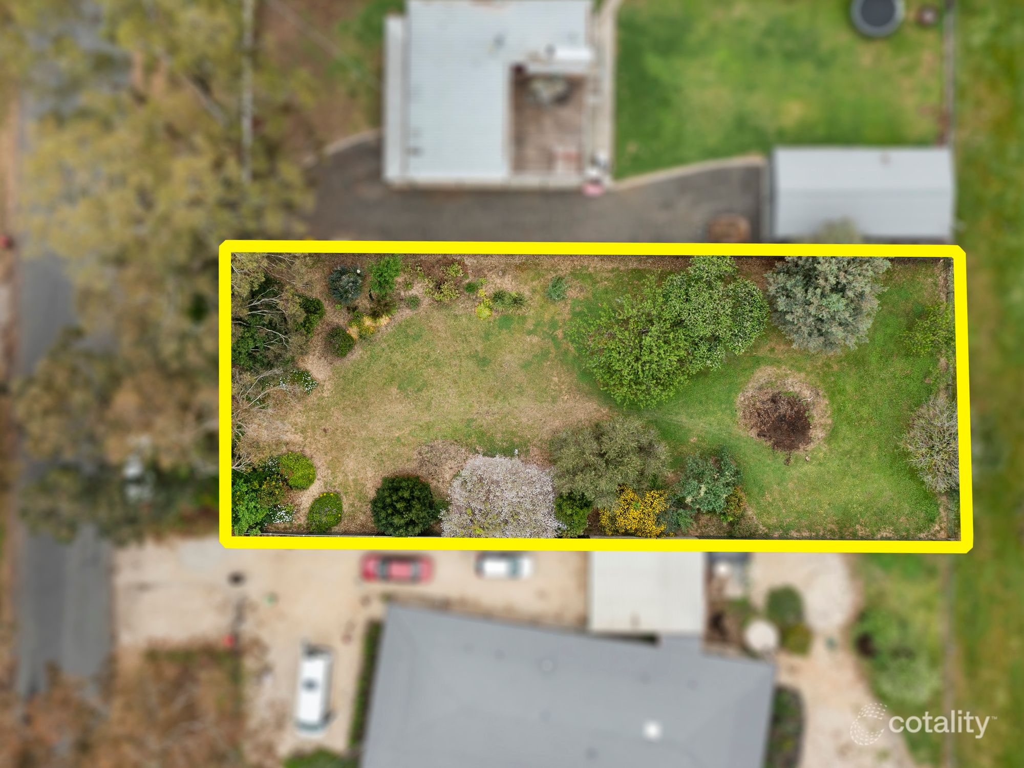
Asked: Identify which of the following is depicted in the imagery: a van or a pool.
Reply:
van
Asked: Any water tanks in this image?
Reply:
Yes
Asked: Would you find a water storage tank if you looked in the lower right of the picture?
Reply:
Yes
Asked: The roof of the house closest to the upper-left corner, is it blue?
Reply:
No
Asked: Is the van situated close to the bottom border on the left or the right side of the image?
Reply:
left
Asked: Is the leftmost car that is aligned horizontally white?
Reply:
No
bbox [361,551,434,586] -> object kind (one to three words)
car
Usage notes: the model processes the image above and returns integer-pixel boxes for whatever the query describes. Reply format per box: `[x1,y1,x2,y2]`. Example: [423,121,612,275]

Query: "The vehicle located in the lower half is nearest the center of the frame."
[475,551,534,584]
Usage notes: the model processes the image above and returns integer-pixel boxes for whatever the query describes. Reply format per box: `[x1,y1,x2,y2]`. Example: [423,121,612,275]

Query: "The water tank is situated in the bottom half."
[739,614,779,654]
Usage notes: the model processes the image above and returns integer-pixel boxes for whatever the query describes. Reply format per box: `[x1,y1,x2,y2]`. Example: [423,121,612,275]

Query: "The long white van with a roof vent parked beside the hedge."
[291,643,334,734]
